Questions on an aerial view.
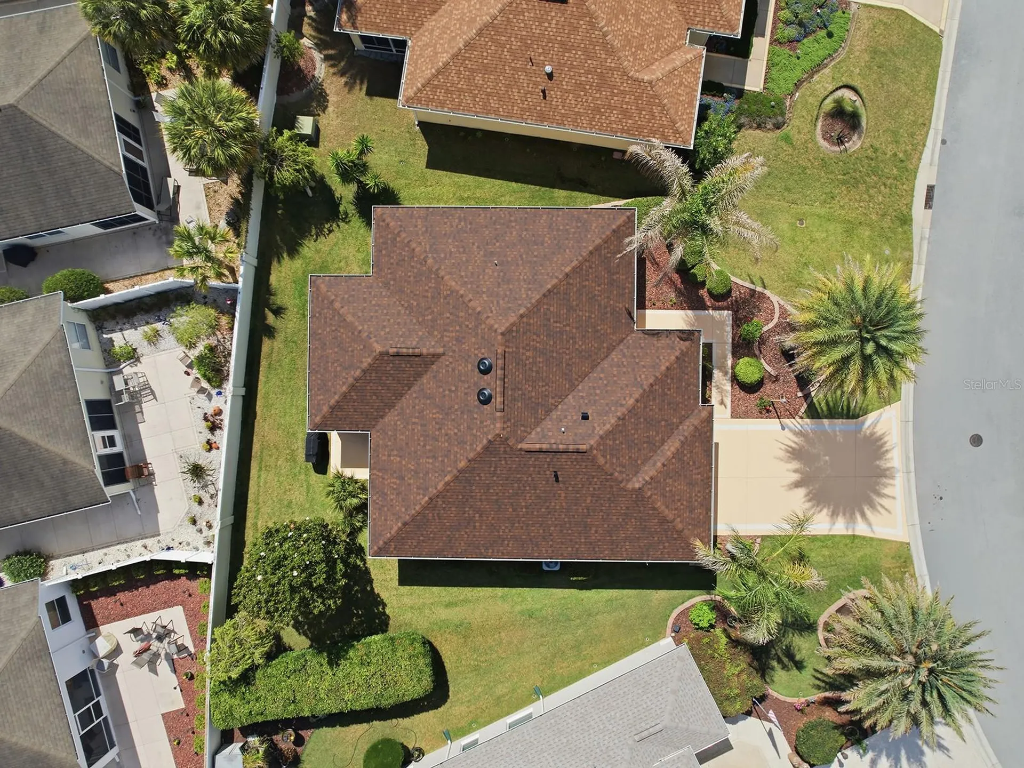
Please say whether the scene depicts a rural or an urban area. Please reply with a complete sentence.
The area is urban.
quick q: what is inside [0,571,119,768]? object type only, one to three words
house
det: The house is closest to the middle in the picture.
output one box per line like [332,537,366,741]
[308,207,713,560]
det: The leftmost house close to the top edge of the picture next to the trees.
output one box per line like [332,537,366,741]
[0,7,158,249]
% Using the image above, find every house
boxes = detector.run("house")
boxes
[0,7,158,249]
[335,0,746,157]
[308,207,713,560]
[403,638,731,768]
[0,293,139,528]
[0,571,119,768]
